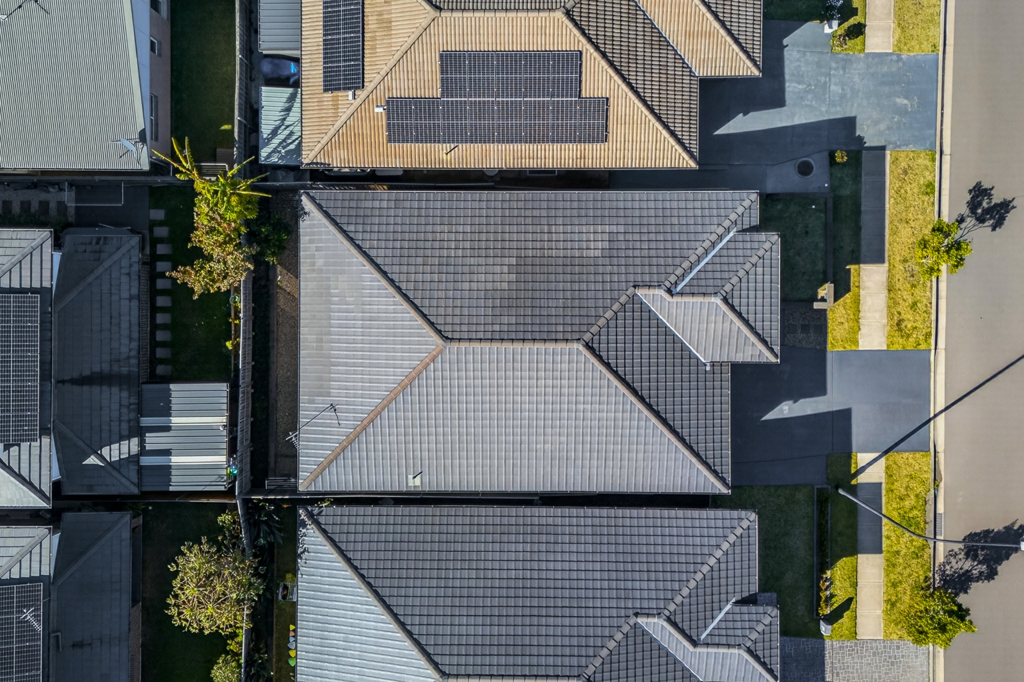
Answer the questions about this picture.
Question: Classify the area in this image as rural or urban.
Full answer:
The area is urban.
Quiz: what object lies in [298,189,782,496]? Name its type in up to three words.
house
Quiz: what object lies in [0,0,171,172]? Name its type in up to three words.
house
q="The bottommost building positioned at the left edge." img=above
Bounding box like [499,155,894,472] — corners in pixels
[0,508,152,682]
